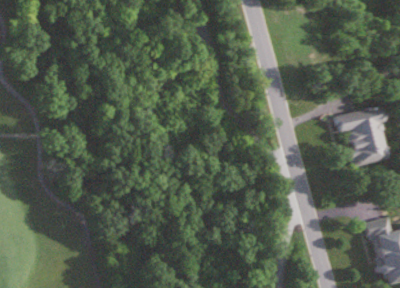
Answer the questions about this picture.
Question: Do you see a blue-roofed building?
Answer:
No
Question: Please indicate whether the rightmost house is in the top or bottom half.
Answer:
bottom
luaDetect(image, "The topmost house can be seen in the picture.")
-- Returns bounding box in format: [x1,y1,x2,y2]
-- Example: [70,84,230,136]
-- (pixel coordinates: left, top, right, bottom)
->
[334,108,391,162]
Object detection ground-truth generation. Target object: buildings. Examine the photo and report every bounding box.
[334,108,391,162]
[366,218,400,287]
